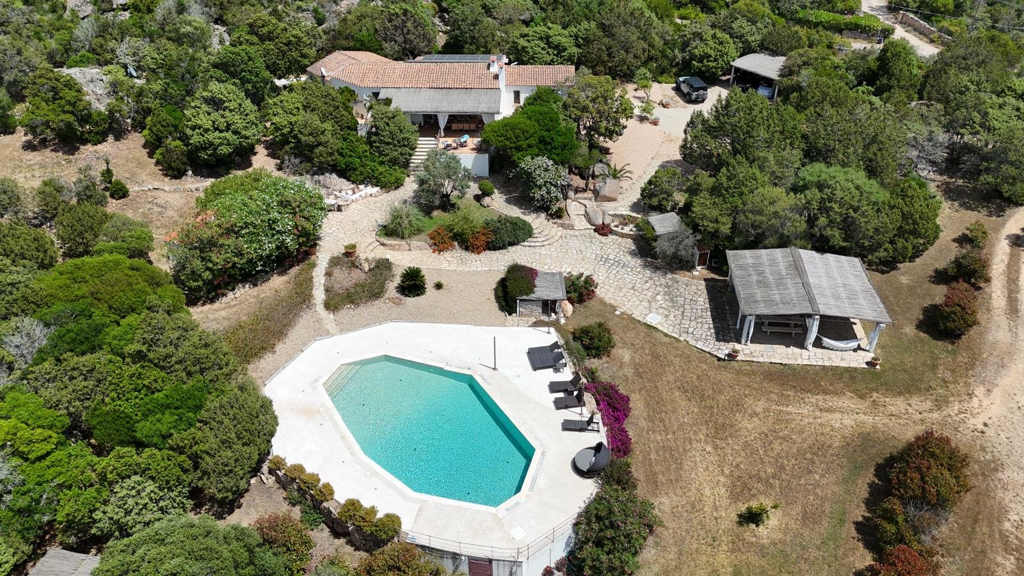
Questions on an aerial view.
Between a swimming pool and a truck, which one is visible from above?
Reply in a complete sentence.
The one in the frame is a swimming pool.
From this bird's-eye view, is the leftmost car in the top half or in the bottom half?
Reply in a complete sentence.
The leftmost car sits in the top half of the picture.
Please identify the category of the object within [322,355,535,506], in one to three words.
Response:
swimming pool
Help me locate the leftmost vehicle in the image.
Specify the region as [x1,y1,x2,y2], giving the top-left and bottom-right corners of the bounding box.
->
[673,72,710,98]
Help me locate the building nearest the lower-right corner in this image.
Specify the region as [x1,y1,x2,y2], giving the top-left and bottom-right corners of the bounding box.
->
[715,244,892,381]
